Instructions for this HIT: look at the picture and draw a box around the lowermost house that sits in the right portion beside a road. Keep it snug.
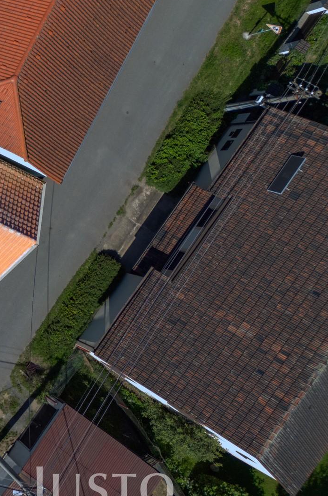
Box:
[74,107,328,494]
